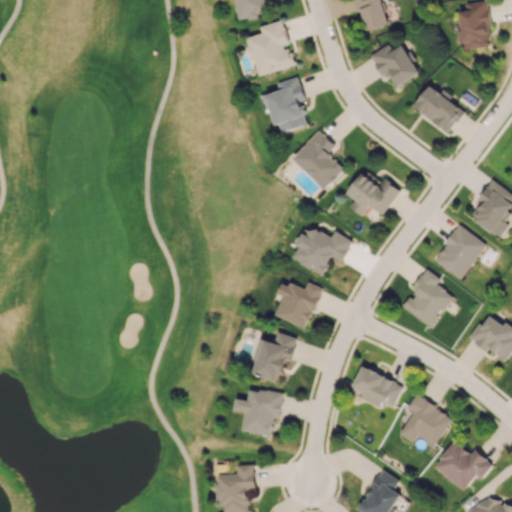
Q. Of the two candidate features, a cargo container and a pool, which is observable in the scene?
pool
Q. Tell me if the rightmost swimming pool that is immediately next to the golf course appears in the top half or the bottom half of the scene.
top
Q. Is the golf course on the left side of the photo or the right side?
left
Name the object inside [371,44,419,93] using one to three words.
house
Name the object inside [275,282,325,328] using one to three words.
house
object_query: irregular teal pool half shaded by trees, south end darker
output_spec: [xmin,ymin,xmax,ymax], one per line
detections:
[233,328,262,368]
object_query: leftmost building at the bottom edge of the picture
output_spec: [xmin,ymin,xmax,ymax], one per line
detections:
[216,462,256,512]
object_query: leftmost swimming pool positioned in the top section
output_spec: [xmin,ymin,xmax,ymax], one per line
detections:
[238,50,258,78]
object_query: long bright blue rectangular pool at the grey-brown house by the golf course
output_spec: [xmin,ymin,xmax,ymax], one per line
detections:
[274,154,322,201]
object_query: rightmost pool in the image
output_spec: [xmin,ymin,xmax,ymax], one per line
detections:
[460,88,482,112]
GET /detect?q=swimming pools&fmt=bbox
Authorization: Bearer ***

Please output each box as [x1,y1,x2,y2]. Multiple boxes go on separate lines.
[460,88,482,112]
[415,438,428,452]
[274,154,322,201]
[233,328,262,368]
[238,50,258,78]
